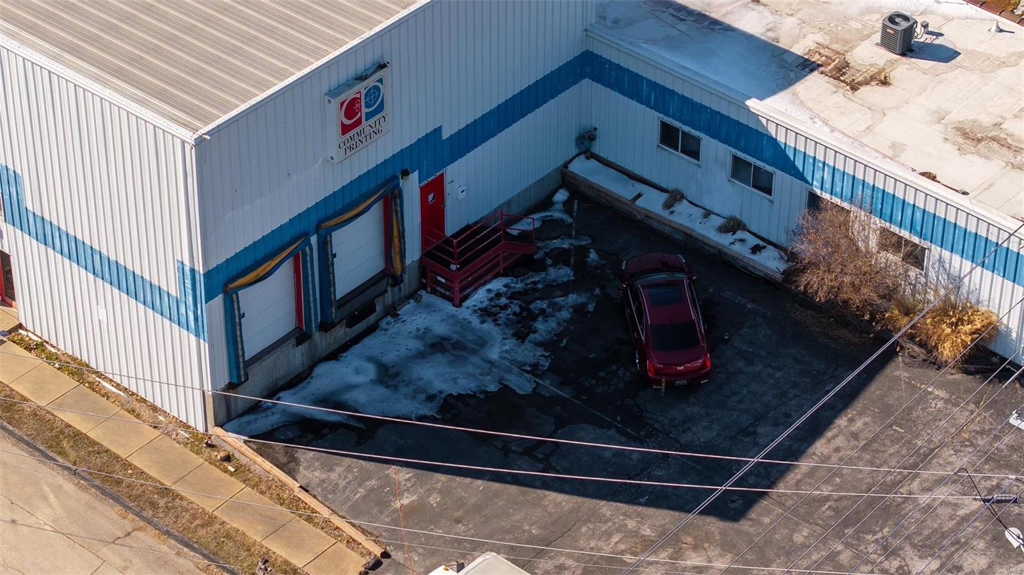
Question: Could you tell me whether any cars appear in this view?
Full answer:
Yes, the picture does show a car.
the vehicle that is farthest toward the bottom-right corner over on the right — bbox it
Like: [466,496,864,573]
[617,253,711,388]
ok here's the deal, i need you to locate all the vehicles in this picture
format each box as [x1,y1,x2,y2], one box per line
[423,554,523,575]
[617,253,711,388]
